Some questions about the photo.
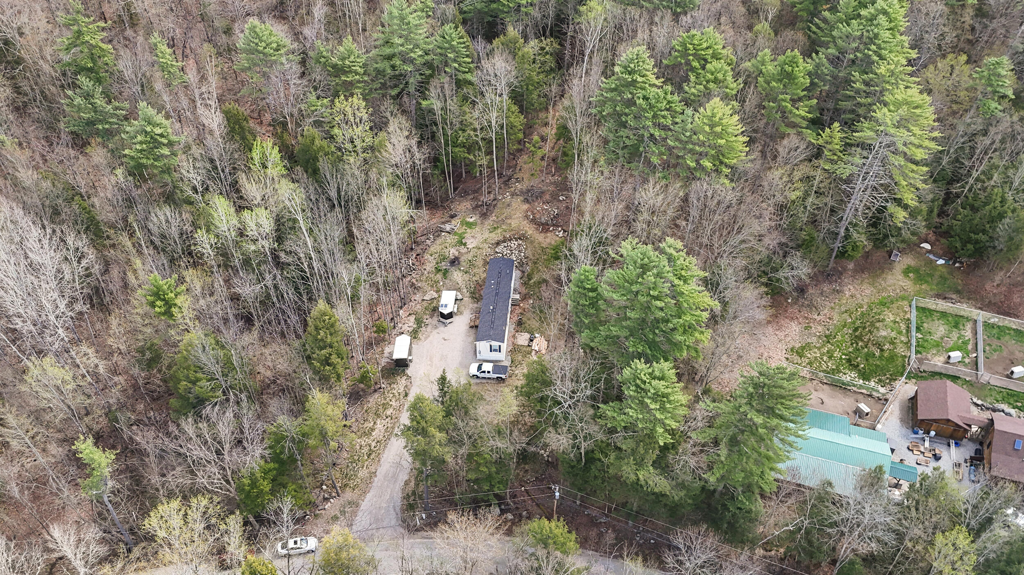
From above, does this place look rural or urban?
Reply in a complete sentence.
From above, the setting appears rural.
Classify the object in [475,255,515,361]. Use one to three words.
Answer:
house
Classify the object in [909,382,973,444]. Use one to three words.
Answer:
barn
